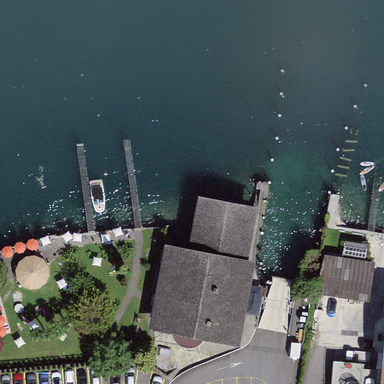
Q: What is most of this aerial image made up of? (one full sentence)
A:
For the most part, this view shows water.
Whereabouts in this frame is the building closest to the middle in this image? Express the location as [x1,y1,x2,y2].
[188,196,259,259]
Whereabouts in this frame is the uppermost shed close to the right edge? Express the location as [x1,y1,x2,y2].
[344,240,368,257]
